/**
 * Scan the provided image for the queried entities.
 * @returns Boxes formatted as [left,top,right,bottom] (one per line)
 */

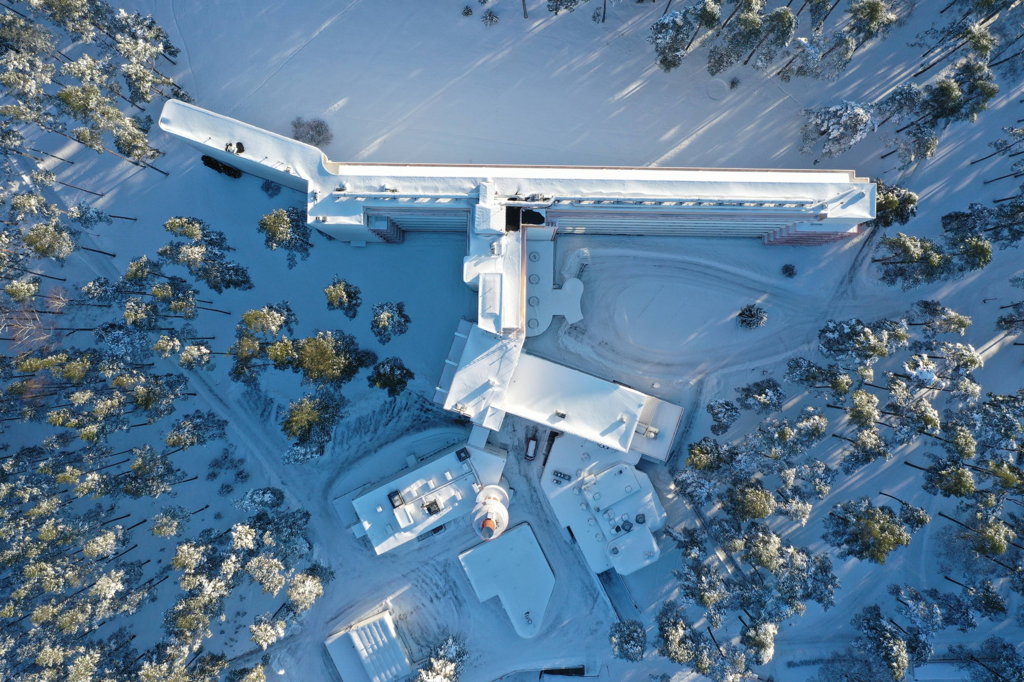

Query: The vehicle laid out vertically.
[524,437,538,462]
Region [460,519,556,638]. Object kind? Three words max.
building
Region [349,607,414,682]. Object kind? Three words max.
shed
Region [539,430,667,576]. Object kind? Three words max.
building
